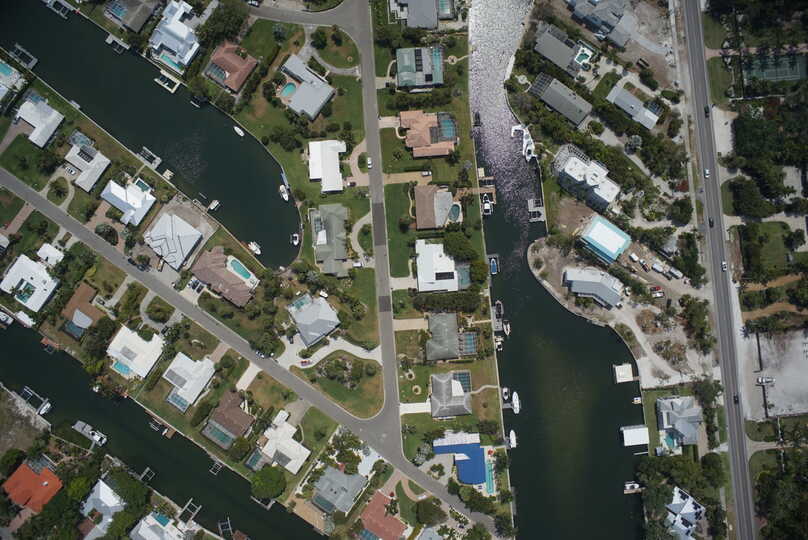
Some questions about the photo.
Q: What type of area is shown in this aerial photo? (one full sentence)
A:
This image shows a residential area.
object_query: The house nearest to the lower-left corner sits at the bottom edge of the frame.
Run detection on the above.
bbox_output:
[3,453,66,513]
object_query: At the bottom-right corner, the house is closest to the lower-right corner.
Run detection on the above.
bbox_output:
[664,487,705,540]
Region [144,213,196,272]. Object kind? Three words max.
house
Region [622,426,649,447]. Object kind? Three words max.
building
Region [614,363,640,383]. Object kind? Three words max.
building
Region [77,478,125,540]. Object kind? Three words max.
house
